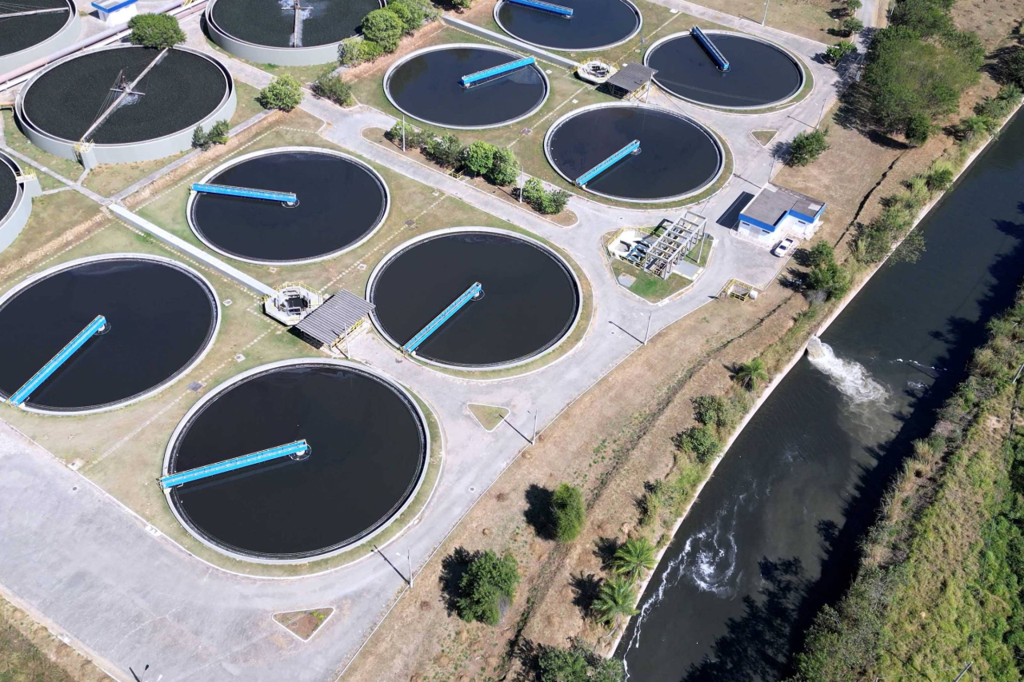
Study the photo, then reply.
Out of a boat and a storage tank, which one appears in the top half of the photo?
storage tank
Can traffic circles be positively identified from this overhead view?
No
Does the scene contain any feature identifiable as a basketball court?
No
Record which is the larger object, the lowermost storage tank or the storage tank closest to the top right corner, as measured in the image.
the lowermost storage tank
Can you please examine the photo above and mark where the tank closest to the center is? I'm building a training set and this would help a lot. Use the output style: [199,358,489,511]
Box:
[365,226,583,372]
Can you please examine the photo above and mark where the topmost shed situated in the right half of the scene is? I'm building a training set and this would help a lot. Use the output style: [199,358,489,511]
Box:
[607,62,658,108]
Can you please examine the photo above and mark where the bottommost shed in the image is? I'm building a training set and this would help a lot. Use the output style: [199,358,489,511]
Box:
[296,288,376,361]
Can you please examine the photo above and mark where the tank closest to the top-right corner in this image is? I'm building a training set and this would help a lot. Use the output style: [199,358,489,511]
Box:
[645,24,805,111]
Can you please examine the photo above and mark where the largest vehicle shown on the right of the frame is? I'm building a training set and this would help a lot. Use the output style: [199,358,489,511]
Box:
[776,232,795,251]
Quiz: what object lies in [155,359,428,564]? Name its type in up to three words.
storage tank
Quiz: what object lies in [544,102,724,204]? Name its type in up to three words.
storage tank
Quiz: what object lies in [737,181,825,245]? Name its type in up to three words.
building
